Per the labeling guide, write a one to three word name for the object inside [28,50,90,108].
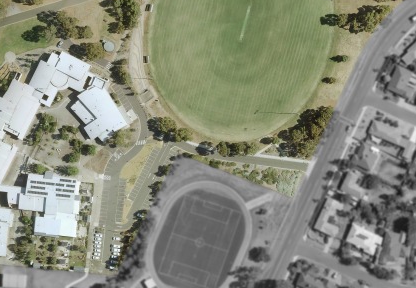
building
